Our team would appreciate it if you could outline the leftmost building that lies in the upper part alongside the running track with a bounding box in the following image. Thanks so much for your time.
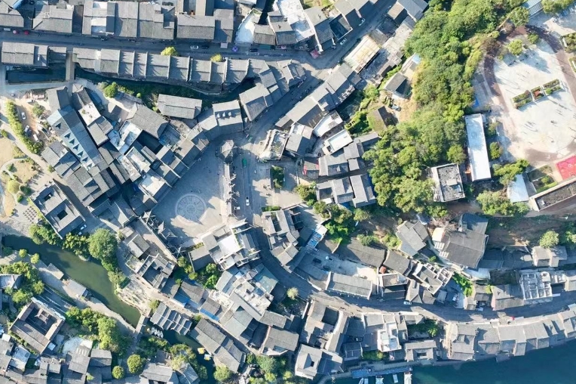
[461,113,491,180]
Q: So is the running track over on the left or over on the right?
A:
right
